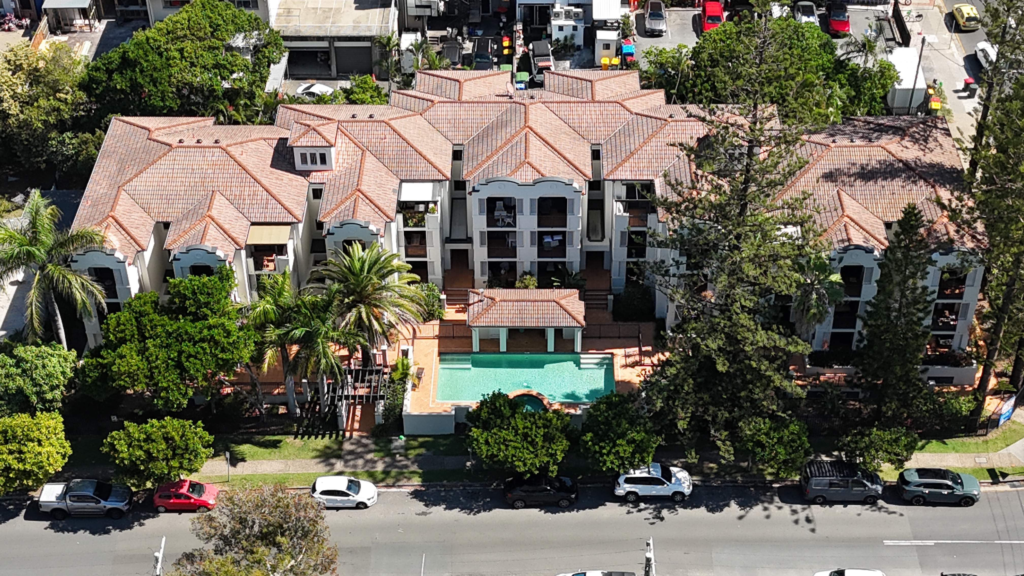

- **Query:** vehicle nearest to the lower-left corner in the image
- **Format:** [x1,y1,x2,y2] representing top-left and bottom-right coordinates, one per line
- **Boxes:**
[34,478,136,520]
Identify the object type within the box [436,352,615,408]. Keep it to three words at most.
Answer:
swimming pool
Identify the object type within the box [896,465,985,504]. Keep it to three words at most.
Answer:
car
